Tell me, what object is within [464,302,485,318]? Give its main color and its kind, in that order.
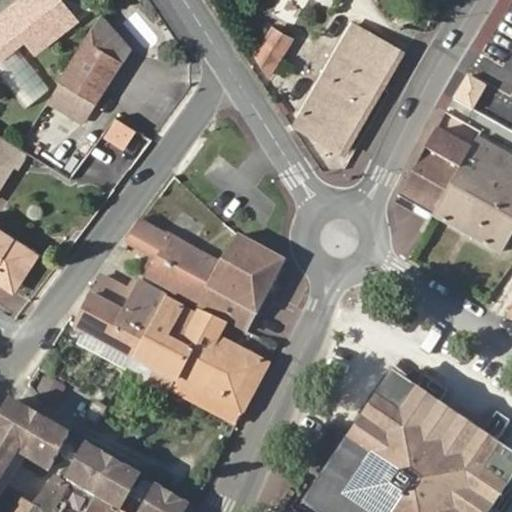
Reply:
white car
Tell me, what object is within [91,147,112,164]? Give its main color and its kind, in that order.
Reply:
white car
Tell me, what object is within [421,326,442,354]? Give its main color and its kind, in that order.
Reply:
white vehicle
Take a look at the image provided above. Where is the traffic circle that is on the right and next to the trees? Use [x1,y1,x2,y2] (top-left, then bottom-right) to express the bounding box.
[290,190,390,289]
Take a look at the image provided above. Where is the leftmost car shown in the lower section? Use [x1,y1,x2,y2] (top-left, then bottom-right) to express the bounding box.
[42,327,58,349]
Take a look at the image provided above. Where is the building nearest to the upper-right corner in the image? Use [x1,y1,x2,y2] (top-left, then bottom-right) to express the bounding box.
[454,73,486,108]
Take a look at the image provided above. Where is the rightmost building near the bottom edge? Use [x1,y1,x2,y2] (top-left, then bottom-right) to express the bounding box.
[302,369,512,512]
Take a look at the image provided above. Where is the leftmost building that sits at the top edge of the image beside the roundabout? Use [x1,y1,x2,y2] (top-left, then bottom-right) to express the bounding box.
[293,21,406,170]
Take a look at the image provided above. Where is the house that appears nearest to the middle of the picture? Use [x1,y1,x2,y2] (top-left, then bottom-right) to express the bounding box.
[206,233,286,312]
